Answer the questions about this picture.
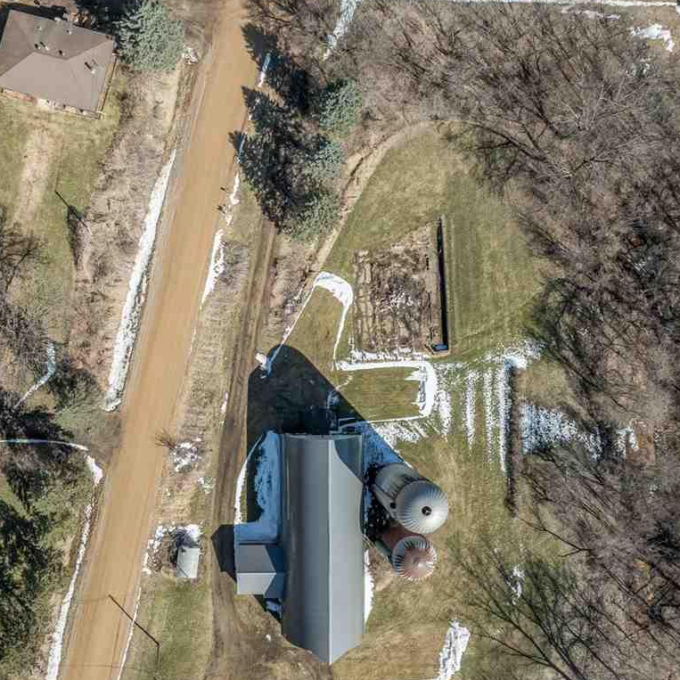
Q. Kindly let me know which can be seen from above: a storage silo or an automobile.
storage silo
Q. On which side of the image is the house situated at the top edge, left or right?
left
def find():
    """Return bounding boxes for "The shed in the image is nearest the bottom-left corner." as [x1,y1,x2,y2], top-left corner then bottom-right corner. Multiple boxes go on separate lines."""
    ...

[176,546,200,579]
